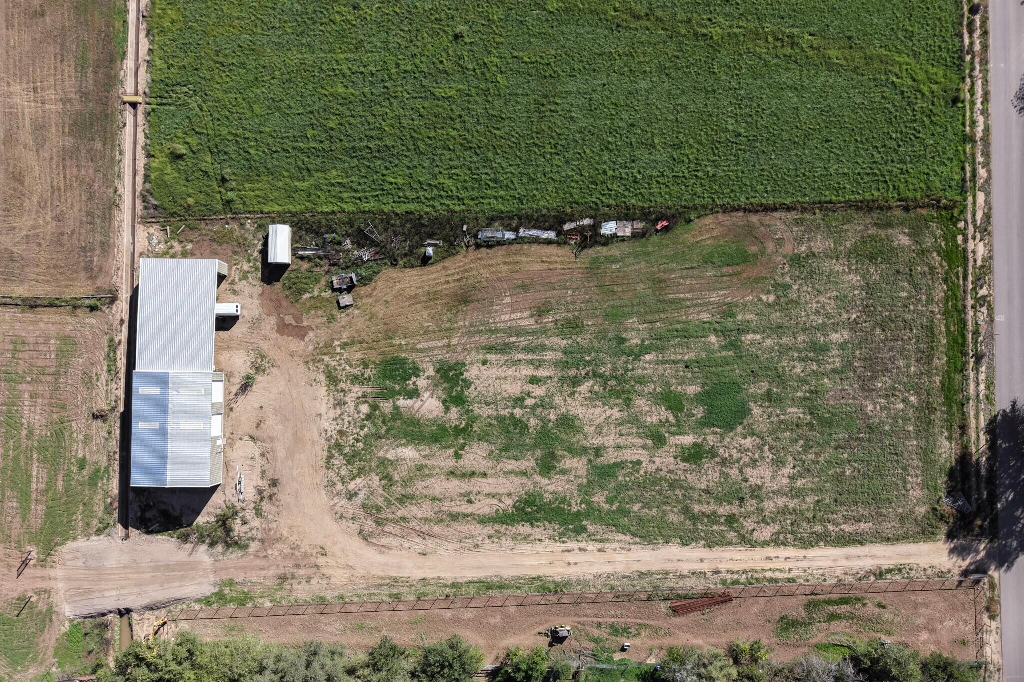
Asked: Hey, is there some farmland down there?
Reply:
Yes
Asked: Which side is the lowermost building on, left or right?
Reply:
left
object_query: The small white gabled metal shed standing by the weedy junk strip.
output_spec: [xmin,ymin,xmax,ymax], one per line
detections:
[269,224,293,263]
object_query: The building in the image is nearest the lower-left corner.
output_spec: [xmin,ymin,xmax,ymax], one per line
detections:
[130,371,224,487]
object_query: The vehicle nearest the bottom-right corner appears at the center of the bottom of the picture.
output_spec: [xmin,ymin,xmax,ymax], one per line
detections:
[540,623,572,640]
